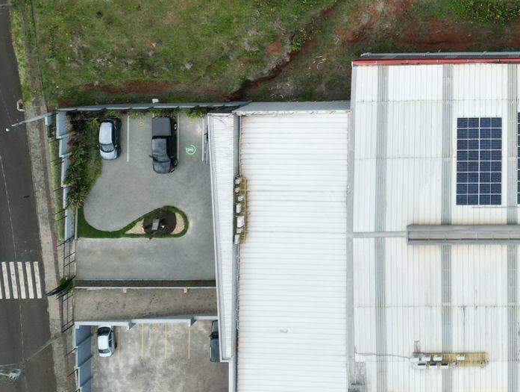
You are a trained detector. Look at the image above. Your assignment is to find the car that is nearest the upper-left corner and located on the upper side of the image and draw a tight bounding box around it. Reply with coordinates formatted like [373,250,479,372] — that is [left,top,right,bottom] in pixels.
[97,119,121,160]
